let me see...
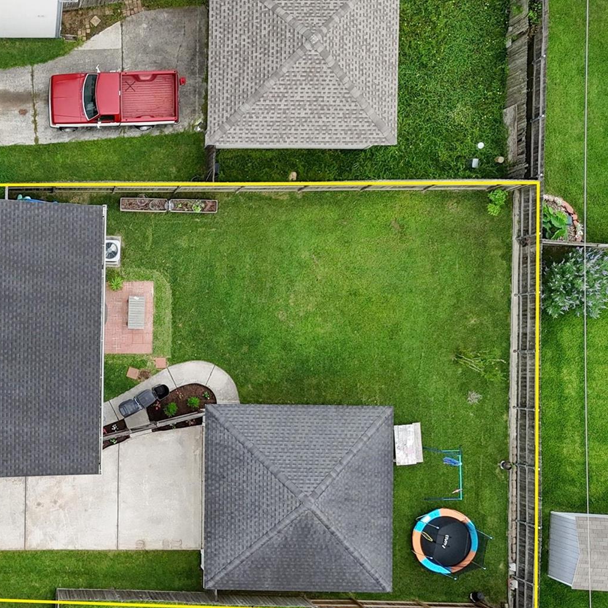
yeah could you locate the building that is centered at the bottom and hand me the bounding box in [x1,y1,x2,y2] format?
[201,402,395,595]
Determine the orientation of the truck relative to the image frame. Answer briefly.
horizontally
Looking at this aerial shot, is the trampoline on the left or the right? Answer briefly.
right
